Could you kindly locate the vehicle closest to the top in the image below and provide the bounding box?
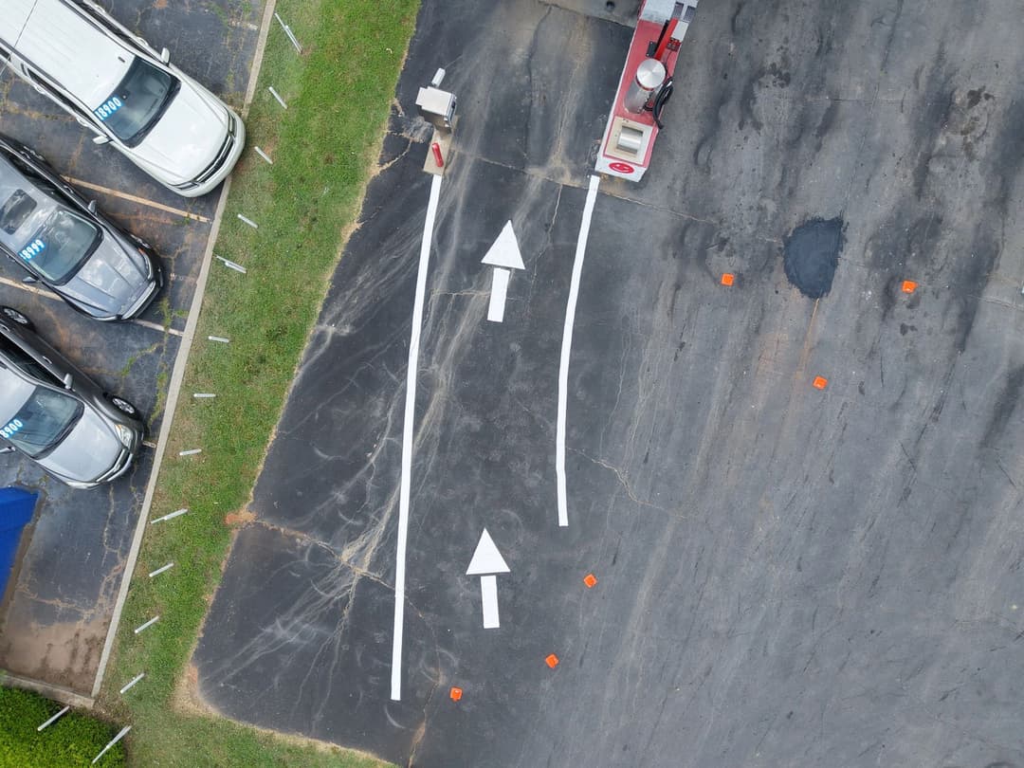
[0,0,246,198]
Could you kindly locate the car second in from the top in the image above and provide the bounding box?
[0,121,164,319]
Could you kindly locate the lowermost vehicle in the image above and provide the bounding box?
[0,302,138,488]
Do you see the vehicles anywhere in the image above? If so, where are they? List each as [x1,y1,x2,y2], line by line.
[0,302,138,488]
[0,121,164,319]
[0,0,246,198]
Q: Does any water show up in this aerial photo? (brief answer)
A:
No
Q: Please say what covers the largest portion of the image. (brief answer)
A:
paved ground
